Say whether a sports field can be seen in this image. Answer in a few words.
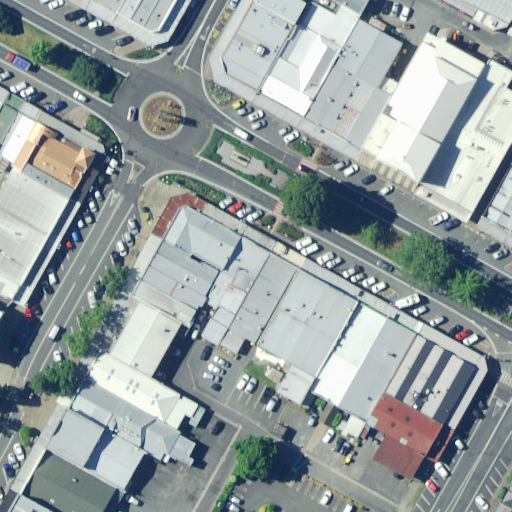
No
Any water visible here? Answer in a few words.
No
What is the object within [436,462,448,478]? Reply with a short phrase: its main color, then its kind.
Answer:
white vehicle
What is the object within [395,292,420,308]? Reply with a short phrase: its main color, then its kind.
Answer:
white vehicle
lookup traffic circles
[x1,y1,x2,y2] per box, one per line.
[140,92,186,139]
